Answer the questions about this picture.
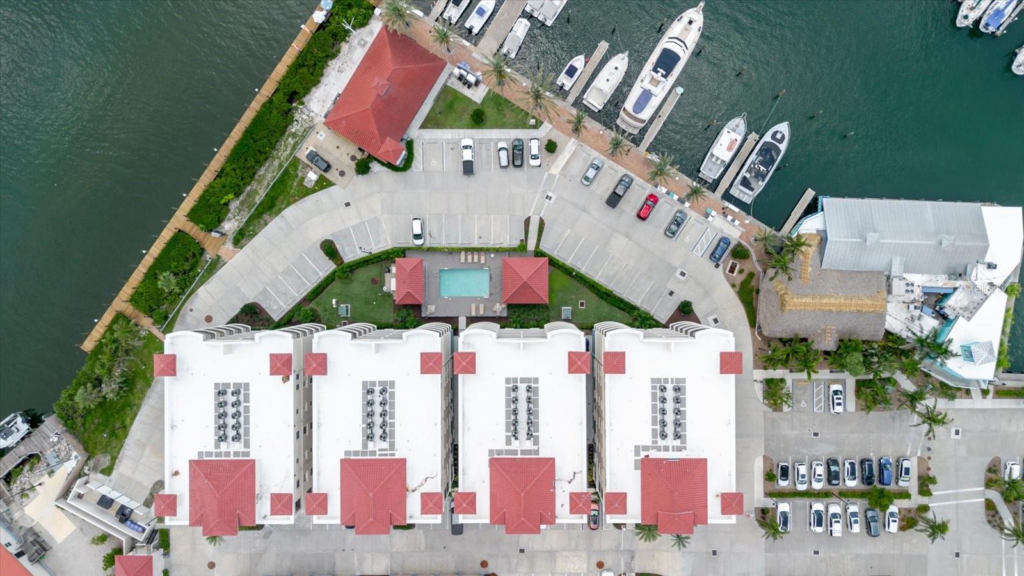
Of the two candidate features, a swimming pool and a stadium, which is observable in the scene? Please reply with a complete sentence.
Visible in the photo is a swimming pool.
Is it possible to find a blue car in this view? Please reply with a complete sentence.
Yes, the image includes a blue car.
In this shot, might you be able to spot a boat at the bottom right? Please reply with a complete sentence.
No, looking at the bottom right, there is no boat.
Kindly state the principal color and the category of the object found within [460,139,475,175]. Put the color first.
white vehicle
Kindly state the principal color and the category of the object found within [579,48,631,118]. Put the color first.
white boat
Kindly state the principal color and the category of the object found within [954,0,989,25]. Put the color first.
white boat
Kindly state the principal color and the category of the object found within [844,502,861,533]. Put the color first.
white car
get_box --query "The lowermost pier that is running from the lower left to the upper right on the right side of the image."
[779,187,816,233]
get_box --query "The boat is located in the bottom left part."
[0,408,39,459]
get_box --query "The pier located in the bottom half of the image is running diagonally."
[0,414,62,478]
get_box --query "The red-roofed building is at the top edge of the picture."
[324,24,447,175]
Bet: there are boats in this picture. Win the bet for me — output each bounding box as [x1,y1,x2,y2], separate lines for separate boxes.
[500,19,530,62]
[524,0,547,18]
[726,123,791,208]
[535,0,566,28]
[977,0,1017,31]
[579,48,631,118]
[442,0,467,27]
[557,55,585,92]
[618,0,707,135]
[954,0,989,25]
[465,0,494,36]
[0,408,39,459]
[696,112,748,188]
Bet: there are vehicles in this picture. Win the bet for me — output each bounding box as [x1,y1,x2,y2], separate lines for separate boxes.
[844,502,861,533]
[776,461,790,486]
[635,192,660,222]
[605,173,633,209]
[859,456,876,486]
[411,216,425,247]
[527,137,542,168]
[1019,457,1024,488]
[510,138,525,169]
[883,507,900,534]
[810,459,826,490]
[304,148,334,174]
[1002,459,1021,489]
[708,234,732,265]
[809,501,826,533]
[495,142,509,169]
[895,456,913,487]
[776,500,791,532]
[448,494,464,534]
[842,458,858,487]
[827,382,845,414]
[587,496,600,528]
[826,503,843,536]
[876,456,893,486]
[825,455,841,486]
[460,139,475,175]
[580,156,604,187]
[863,506,880,537]
[793,460,809,491]
[663,208,688,239]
